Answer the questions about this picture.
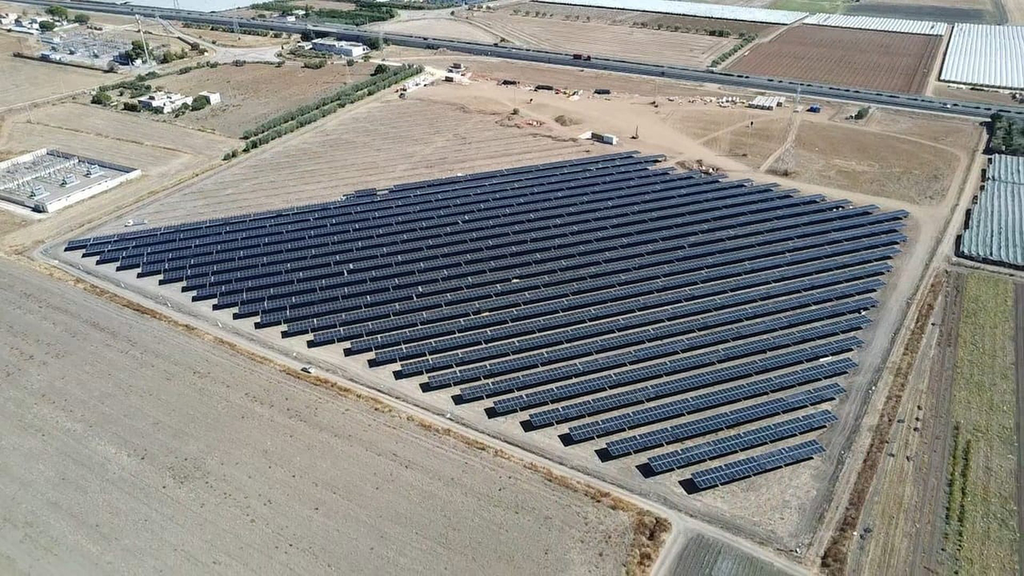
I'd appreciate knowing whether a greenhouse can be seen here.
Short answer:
Yes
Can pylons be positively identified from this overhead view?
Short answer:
Yes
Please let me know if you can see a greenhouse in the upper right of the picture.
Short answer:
Yes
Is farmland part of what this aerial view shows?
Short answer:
Yes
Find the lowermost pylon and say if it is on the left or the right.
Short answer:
right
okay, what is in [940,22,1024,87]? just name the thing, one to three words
greenhouse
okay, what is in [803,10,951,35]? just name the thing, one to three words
greenhouse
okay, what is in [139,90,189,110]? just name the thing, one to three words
house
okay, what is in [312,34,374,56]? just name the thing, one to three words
building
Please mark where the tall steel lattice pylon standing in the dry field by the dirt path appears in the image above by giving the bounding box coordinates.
[773,82,806,177]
